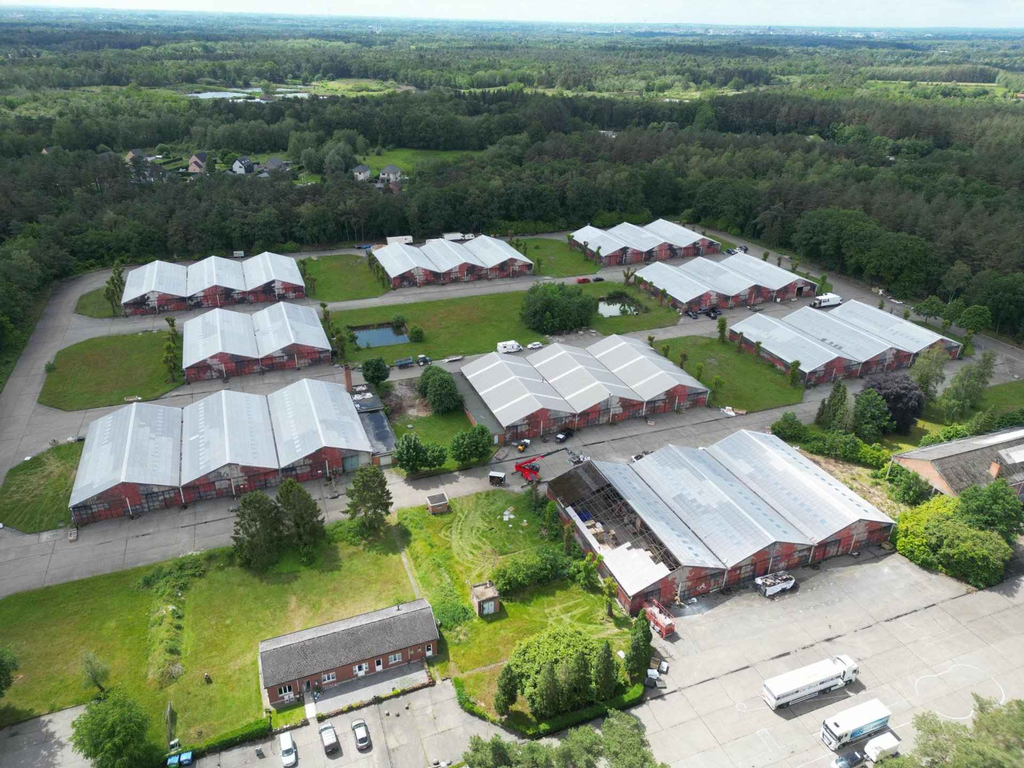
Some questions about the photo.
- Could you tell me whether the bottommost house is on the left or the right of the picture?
left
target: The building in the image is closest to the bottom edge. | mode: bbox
[257,600,439,702]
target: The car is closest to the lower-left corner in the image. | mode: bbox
[278,728,296,767]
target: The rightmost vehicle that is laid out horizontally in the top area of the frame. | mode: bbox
[811,291,845,308]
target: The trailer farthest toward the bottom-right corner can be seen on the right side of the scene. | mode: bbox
[865,726,906,759]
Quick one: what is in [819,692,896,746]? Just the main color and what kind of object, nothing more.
white truck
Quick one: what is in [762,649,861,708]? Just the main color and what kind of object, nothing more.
white truck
